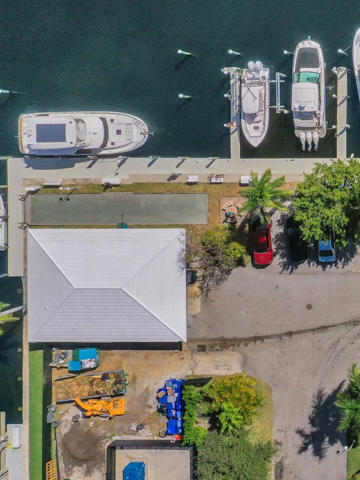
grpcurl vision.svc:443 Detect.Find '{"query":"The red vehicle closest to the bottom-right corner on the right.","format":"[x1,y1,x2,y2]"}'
[249,220,274,267]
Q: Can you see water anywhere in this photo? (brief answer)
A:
Yes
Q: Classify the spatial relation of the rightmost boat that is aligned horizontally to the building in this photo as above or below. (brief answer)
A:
above it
